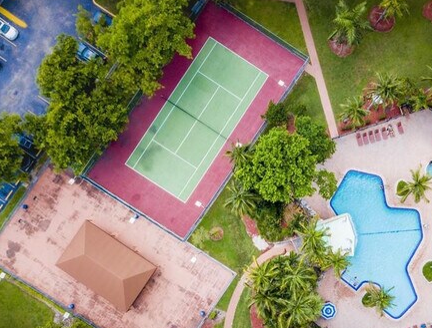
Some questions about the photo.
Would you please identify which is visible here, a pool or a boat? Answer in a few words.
pool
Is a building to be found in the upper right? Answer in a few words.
No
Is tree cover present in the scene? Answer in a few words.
Yes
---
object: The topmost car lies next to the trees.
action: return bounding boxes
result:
[86,3,106,20]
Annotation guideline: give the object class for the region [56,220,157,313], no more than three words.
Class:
building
